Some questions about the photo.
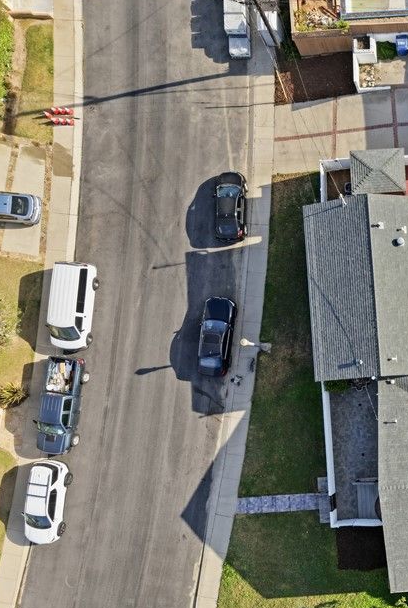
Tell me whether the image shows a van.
Yes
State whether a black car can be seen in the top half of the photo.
Yes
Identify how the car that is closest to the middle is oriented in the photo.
vertically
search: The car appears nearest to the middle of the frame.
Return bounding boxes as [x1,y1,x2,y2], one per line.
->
[199,295,239,377]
